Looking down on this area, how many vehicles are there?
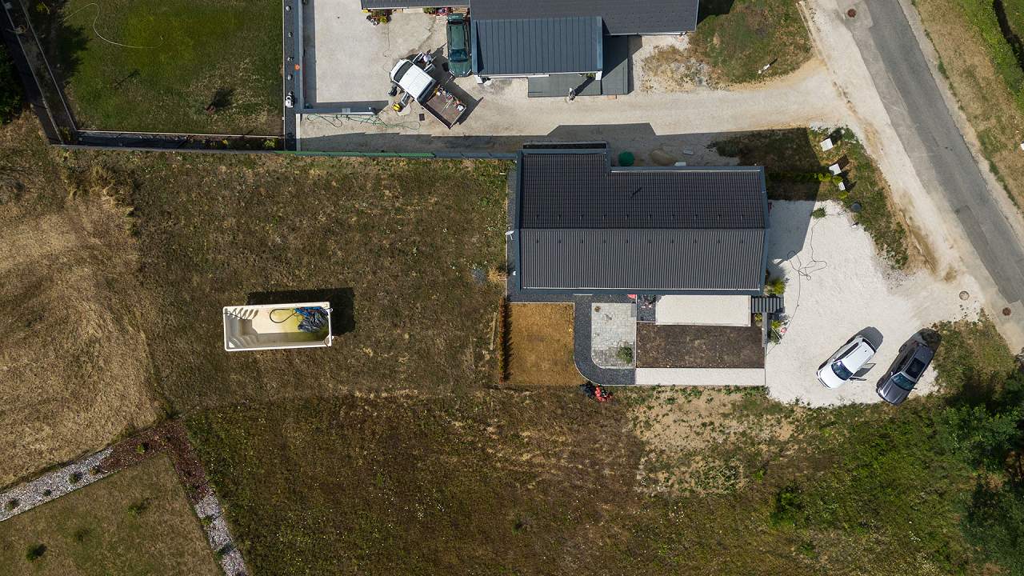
4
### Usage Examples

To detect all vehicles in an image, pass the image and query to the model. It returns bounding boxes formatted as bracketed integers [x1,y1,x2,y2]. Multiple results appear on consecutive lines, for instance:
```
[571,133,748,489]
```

[392,54,468,129]
[814,334,873,386]
[444,14,472,83]
[875,339,934,401]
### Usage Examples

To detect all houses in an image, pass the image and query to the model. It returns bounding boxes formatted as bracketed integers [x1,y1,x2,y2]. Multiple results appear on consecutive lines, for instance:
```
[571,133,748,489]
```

[514,142,770,294]
[467,0,703,85]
